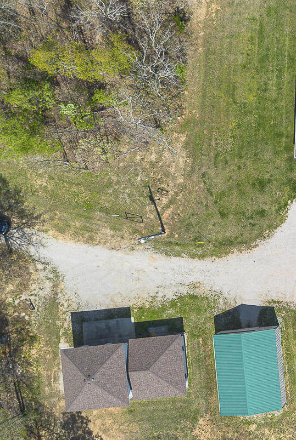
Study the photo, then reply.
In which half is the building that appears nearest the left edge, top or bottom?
bottom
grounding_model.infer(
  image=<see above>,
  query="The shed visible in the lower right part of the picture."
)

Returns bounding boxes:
[212,327,285,416]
